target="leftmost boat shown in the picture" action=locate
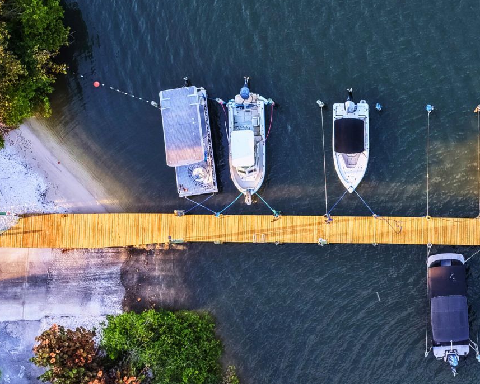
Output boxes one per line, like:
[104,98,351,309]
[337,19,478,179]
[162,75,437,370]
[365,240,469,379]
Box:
[159,73,221,197]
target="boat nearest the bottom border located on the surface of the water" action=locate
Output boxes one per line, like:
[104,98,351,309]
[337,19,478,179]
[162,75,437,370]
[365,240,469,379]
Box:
[429,253,469,379]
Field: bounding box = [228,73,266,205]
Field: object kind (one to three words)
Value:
boat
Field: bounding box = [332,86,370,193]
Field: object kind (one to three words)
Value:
boat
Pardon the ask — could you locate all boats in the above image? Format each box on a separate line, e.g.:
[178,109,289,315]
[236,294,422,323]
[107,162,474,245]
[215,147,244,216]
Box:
[228,73,266,205]
[159,73,221,197]
[429,253,469,379]
[332,86,370,193]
